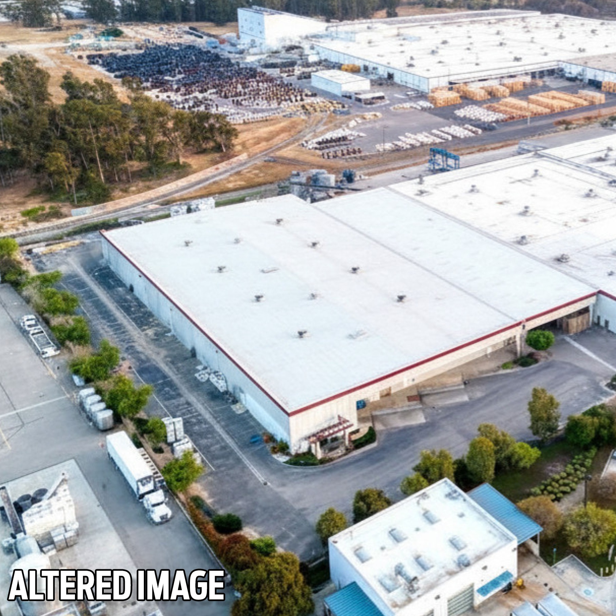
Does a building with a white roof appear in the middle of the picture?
Yes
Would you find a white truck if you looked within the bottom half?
Yes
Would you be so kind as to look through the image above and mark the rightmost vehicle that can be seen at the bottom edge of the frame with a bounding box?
[541,594,575,616]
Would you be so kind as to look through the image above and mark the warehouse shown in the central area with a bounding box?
[101,152,616,456]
